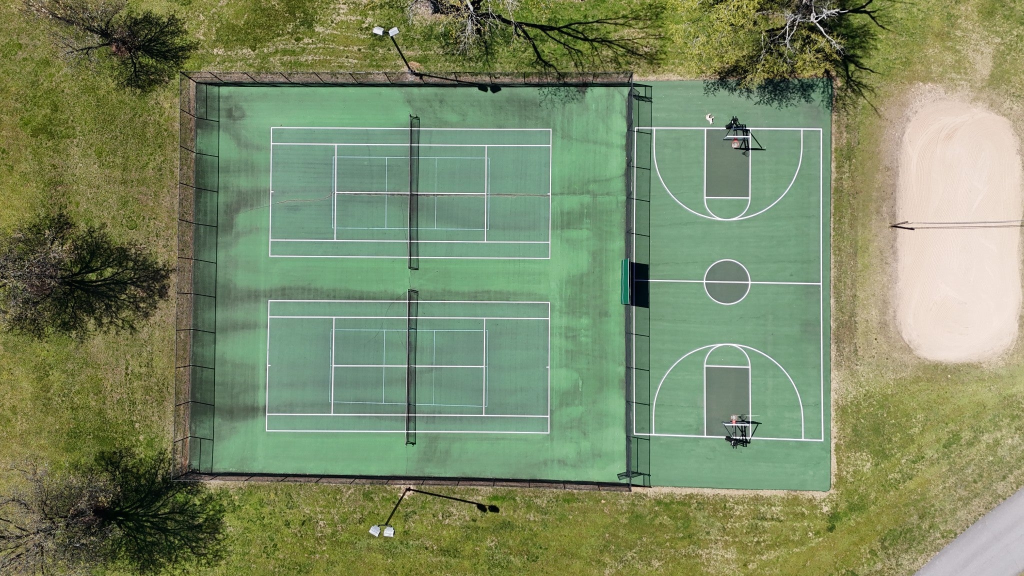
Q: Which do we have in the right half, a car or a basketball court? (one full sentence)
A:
There is a basketball court in the right half.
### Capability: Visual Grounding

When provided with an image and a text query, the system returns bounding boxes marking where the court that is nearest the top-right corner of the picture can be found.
[896,99,1024,363]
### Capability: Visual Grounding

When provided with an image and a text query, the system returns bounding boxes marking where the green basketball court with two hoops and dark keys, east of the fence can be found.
[632,78,834,491]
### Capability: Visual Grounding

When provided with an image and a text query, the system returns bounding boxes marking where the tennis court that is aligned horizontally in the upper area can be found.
[269,127,552,259]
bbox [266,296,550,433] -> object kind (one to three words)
tennis court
